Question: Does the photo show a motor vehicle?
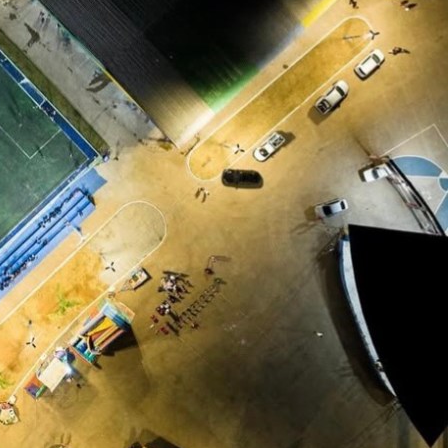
Yes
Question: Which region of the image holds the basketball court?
right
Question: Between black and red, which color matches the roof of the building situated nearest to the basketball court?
black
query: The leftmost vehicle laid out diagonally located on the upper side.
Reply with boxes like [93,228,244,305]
[252,129,292,164]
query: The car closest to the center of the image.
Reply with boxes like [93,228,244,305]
[223,168,267,190]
